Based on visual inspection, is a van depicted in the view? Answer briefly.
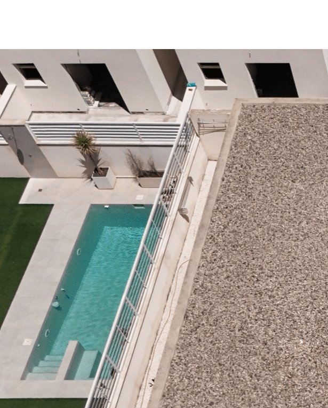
No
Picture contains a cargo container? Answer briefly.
No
